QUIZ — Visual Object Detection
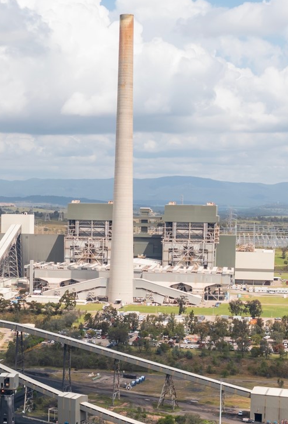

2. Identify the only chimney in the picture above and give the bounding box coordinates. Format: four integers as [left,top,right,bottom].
[110,13,135,305]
